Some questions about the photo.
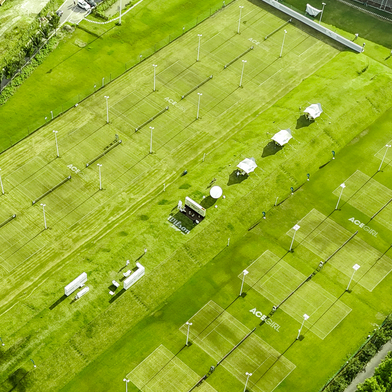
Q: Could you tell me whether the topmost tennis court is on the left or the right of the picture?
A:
right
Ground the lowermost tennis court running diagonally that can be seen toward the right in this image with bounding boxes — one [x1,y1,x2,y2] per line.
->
[179,300,297,392]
